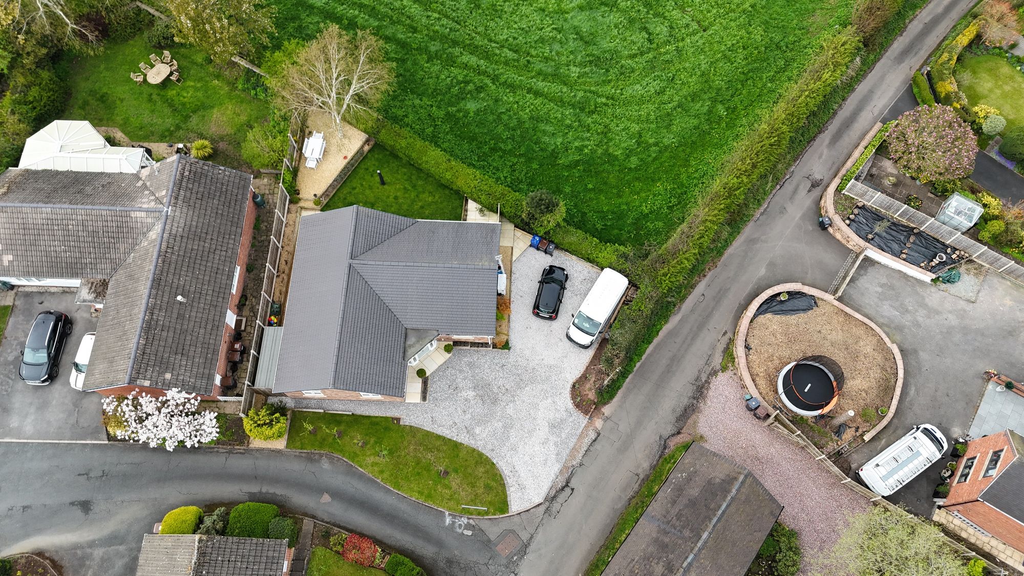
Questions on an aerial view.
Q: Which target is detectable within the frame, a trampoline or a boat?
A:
trampoline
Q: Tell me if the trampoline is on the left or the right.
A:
right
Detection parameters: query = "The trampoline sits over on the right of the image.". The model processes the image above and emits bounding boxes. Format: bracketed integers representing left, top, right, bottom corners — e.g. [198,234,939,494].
[772,352,847,424]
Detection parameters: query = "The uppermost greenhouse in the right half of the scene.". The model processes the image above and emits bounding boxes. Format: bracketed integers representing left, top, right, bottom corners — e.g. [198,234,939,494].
[931,192,982,239]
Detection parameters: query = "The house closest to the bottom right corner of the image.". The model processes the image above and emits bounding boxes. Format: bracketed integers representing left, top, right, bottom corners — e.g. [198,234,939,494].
[931,424,1024,550]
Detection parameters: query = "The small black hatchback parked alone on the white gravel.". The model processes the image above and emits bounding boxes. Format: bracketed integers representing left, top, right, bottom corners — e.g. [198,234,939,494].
[531,266,570,324]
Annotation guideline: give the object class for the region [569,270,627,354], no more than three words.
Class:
van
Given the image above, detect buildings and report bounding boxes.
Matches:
[136,534,295,576]
[599,441,785,576]
[931,424,1024,550]
[0,153,259,402]
[931,192,982,239]
[272,204,501,404]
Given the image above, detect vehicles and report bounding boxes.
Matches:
[849,424,943,501]
[22,312,76,386]
[65,331,95,392]
[531,266,570,324]
[569,270,627,354]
